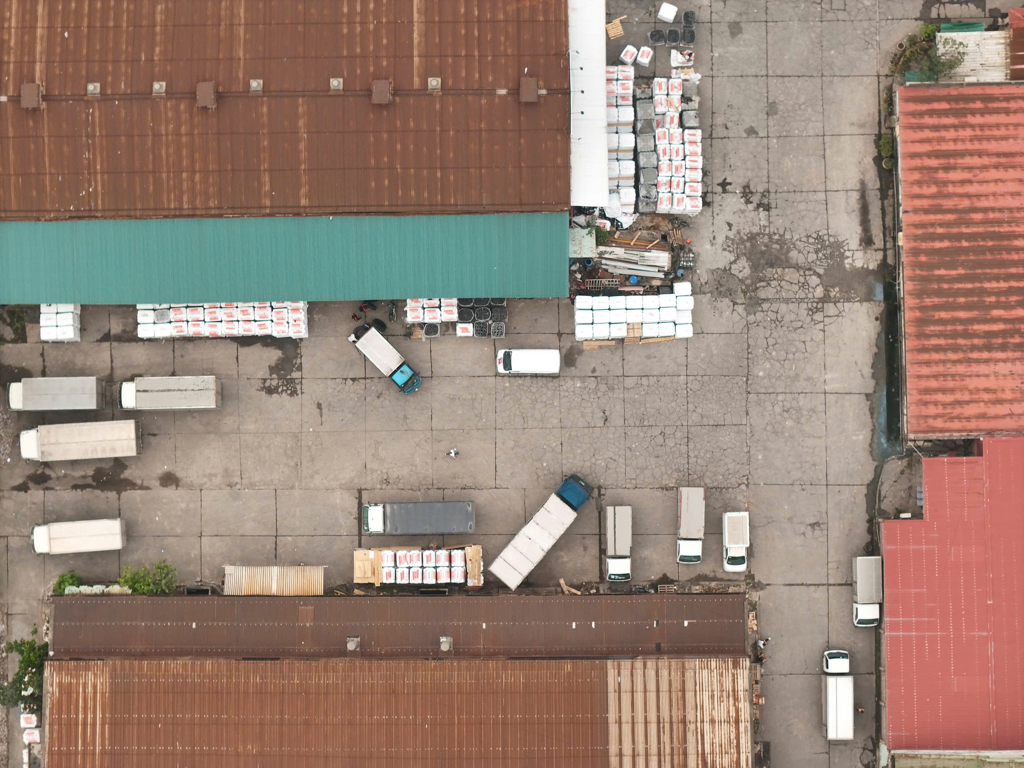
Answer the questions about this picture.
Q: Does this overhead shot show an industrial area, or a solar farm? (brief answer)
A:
industrial area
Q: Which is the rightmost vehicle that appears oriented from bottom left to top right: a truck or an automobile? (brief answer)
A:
truck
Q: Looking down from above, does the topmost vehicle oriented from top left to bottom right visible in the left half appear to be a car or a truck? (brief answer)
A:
truck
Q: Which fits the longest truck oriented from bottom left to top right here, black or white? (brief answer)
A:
white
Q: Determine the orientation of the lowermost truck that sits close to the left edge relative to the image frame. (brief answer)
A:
from side to side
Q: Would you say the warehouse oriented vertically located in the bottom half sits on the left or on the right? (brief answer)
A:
right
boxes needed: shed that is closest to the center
[569,228,596,261]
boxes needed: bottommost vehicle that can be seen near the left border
[28,518,130,558]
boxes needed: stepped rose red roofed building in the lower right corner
[880,435,1024,750]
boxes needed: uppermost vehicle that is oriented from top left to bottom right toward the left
[355,327,426,398]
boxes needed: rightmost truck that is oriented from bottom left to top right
[489,468,600,590]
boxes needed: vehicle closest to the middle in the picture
[496,346,560,376]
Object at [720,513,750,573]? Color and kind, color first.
white truck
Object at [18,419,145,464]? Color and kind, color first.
white truck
